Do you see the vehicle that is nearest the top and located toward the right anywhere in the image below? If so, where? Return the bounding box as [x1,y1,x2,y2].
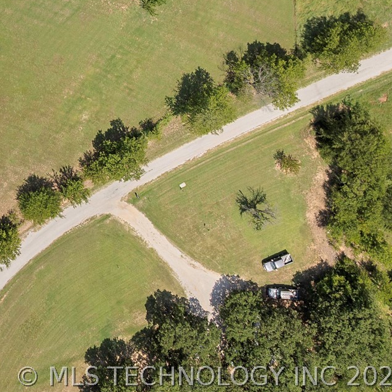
[262,251,293,271]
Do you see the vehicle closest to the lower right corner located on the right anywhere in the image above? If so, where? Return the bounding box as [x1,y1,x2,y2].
[265,286,299,301]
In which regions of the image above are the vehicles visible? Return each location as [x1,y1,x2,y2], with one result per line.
[262,251,293,271]
[265,286,299,301]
